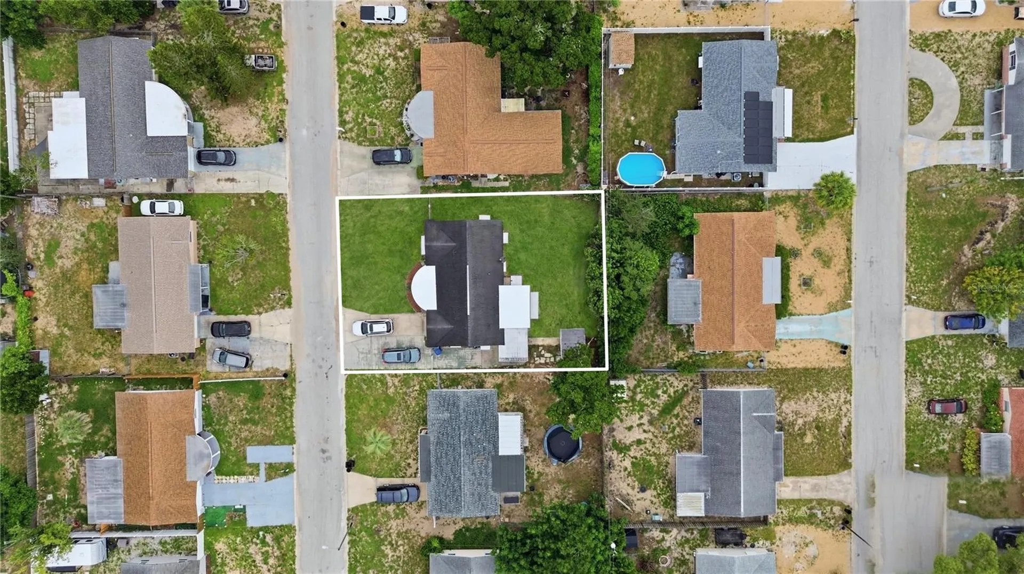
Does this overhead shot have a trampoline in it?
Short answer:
Yes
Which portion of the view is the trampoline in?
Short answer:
bottom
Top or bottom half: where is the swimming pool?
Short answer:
top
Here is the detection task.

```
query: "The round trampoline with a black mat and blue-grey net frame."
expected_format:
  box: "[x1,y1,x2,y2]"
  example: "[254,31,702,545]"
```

[544,425,581,467]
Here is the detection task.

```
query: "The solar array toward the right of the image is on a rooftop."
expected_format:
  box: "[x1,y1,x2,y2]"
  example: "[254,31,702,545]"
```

[741,91,772,164]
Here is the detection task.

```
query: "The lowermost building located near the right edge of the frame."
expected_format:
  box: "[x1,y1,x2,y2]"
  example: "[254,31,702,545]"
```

[967,387,1024,480]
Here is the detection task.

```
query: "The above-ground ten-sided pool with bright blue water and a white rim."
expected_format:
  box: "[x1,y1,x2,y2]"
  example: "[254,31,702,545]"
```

[615,152,667,187]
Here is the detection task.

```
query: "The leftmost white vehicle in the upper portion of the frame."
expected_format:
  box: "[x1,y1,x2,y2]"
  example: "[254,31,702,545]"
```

[142,198,186,216]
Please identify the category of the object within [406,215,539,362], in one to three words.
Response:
house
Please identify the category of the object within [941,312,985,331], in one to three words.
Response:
car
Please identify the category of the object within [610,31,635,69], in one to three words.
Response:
shed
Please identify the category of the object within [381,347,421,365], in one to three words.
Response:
car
